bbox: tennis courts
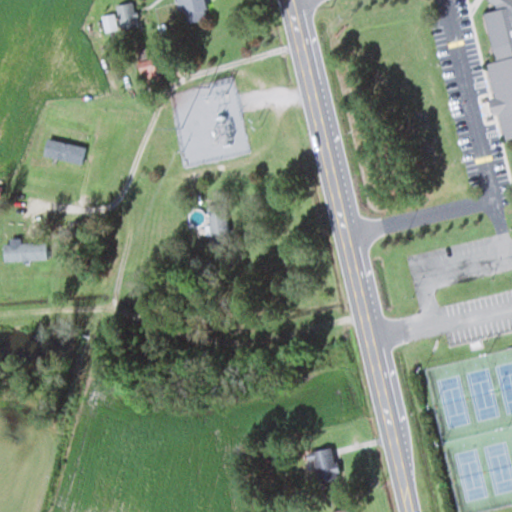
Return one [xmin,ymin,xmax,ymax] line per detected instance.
[483,442,512,496]
[454,449,488,503]
[466,368,500,422]
[437,376,472,430]
[495,362,512,415]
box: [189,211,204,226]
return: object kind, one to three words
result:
swimming pool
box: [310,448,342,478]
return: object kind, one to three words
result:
house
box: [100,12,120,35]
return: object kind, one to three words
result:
barn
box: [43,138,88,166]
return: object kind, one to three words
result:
house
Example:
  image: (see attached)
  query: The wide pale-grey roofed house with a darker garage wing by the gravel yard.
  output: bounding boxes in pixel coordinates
[2,236,47,266]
